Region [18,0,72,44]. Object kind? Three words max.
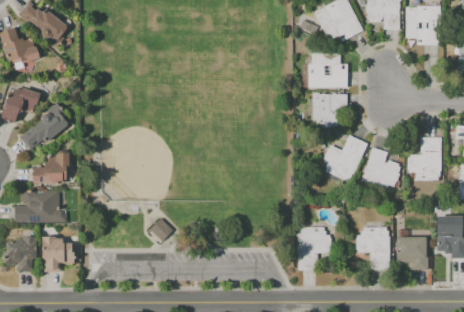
house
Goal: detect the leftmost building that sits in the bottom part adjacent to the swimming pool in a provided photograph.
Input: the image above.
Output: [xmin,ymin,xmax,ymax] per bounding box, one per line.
[300,226,332,270]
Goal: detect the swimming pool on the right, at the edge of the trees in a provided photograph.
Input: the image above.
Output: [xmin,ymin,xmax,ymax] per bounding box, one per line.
[320,208,339,226]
